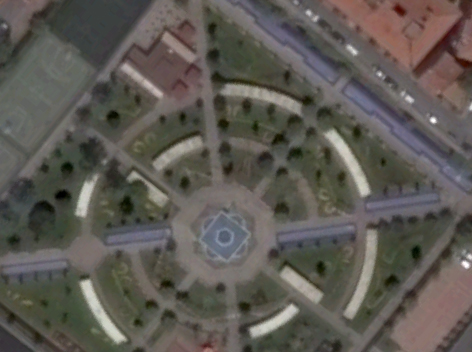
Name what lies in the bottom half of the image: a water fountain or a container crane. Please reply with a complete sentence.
Visible in the bottom half of the image is a water fountain.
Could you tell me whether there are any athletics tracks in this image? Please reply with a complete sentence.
No, the picture doesn't show any athletics track.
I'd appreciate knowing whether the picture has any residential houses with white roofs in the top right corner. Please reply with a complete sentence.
No, I see no residential house with a white roof in the top right corner.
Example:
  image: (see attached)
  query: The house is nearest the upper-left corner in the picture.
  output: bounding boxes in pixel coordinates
[121,21,201,100]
